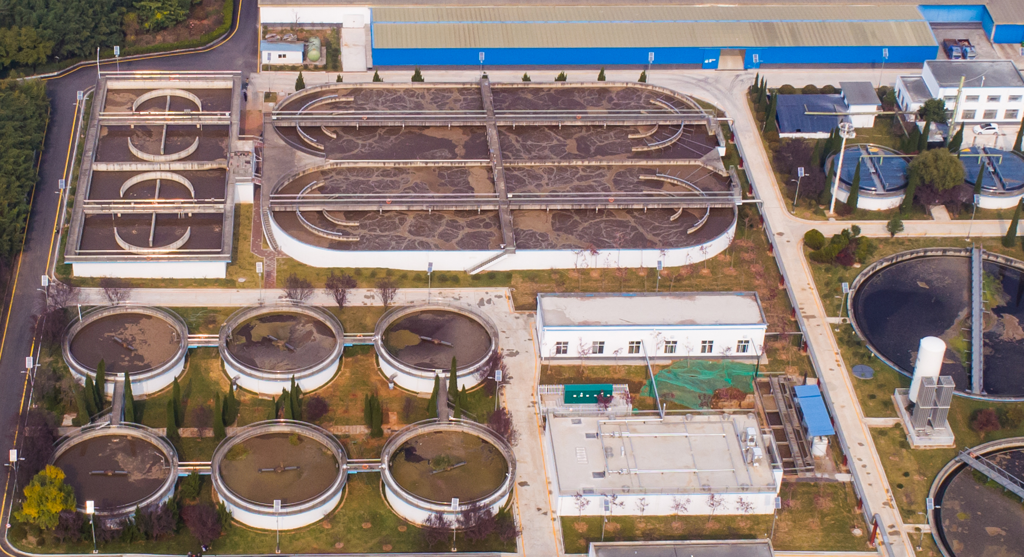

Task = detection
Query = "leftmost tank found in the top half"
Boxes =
[65,68,243,278]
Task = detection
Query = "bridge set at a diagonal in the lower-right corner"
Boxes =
[957,447,1024,501]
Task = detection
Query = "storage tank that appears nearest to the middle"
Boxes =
[374,298,499,401]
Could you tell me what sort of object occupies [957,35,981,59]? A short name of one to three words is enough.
truck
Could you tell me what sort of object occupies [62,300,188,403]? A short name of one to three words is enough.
storage tank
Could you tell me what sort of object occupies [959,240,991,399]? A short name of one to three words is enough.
bridge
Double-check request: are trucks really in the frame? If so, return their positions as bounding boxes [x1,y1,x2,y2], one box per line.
[957,35,981,59]
[941,35,966,59]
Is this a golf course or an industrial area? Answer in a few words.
industrial area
